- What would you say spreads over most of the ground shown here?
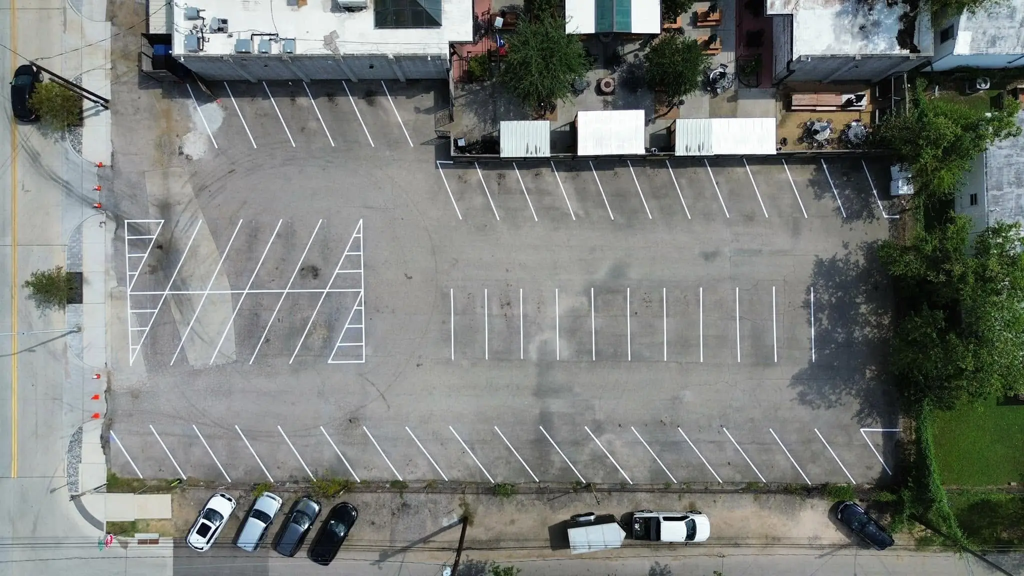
paved ground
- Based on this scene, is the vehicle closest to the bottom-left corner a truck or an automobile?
automobile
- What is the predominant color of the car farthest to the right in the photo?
black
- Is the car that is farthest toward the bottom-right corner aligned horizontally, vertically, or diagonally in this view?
diagonally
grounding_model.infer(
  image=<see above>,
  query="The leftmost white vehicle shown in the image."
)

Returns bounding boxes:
[187,488,238,552]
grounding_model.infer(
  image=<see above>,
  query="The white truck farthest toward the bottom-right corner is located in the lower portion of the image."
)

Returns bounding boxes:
[630,508,710,544]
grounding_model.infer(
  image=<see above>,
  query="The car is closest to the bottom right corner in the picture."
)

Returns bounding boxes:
[832,500,893,554]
